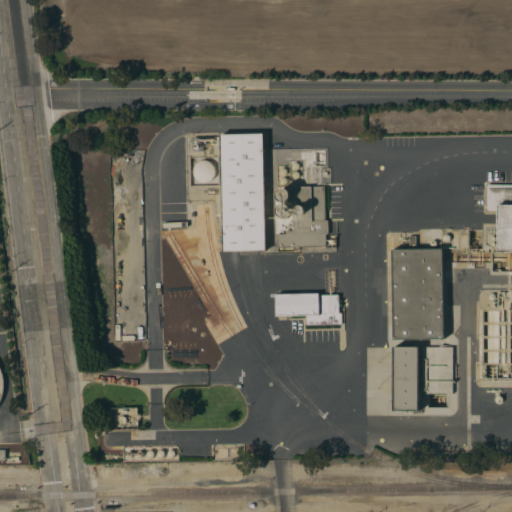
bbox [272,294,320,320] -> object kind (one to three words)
building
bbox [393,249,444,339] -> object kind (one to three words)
building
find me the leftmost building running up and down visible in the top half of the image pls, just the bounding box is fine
[222,134,264,250]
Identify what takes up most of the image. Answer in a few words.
paved ground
